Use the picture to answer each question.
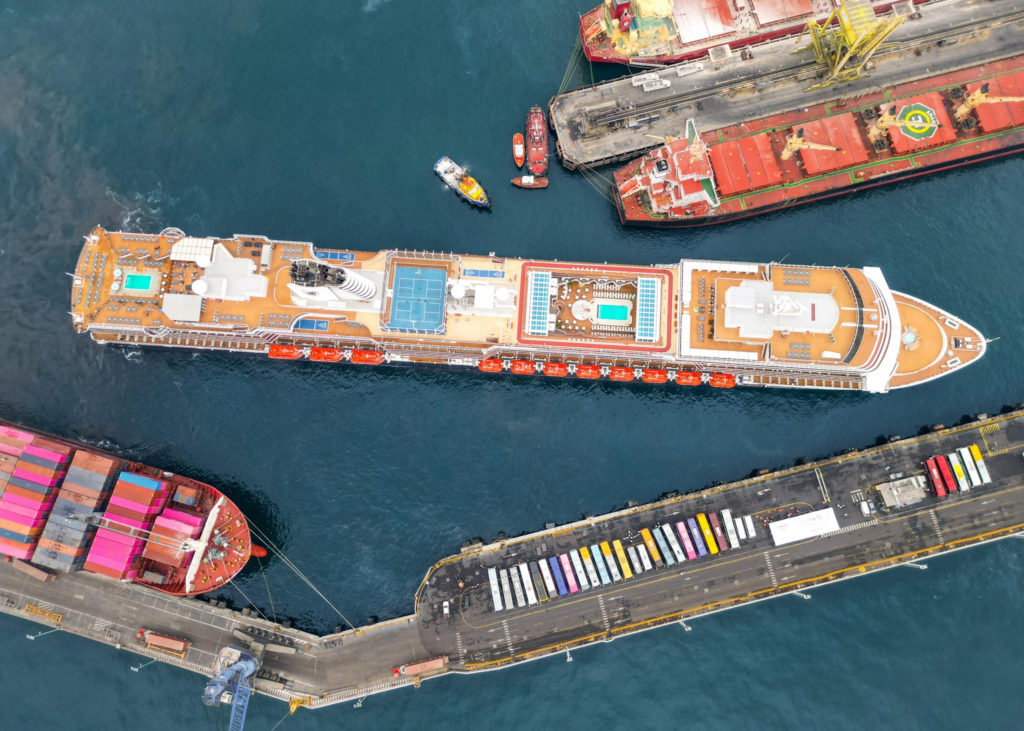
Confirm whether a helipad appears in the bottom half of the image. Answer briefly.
No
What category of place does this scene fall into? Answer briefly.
port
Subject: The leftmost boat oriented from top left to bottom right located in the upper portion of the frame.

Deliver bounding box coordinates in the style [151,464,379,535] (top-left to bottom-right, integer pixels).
[430,152,493,209]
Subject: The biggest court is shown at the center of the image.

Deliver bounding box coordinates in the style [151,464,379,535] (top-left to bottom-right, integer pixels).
[390,264,447,331]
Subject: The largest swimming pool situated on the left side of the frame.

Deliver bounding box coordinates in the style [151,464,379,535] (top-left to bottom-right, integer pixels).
[120,268,162,297]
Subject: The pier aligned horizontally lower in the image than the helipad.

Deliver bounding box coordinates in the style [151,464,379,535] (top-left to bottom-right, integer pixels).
[0,409,1024,709]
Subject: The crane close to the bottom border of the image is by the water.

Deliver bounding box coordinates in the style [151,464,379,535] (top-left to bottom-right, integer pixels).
[201,626,307,731]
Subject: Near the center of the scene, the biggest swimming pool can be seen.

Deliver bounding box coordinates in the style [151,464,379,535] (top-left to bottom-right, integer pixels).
[589,298,633,326]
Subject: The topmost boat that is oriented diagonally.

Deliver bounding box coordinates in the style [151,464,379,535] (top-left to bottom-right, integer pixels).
[578,14,609,47]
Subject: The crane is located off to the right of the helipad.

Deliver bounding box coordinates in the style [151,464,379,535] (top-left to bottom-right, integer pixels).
[946,94,1024,124]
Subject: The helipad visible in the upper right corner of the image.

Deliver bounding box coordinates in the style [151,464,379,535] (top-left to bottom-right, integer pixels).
[897,100,939,143]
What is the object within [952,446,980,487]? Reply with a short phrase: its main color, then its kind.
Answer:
white bus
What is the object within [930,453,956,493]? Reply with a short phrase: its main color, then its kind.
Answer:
red bus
